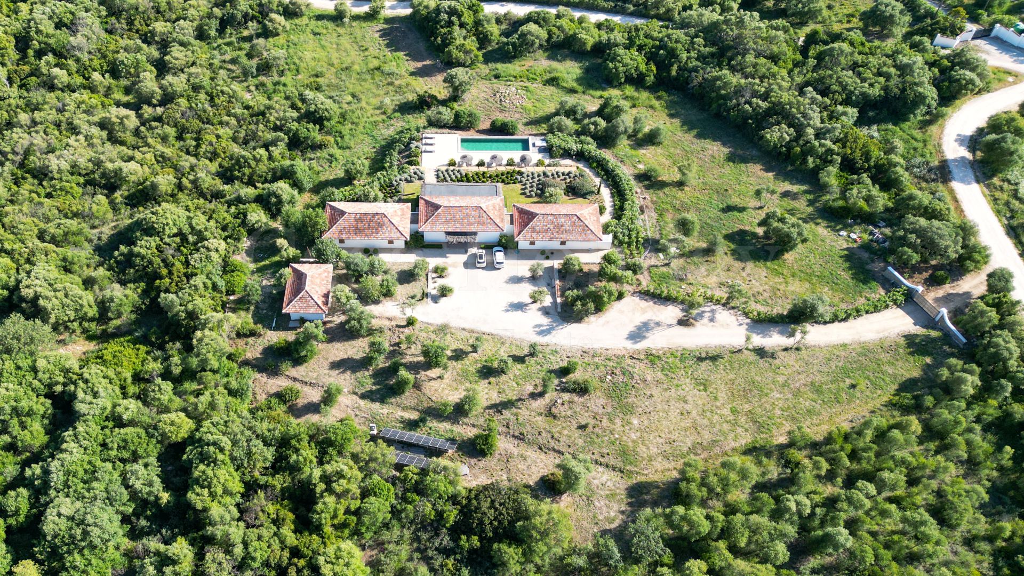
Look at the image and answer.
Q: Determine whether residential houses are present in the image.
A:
Yes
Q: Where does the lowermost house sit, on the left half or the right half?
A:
left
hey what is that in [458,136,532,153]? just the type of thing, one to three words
swimming pool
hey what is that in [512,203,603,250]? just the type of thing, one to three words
house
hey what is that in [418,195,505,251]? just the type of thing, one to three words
house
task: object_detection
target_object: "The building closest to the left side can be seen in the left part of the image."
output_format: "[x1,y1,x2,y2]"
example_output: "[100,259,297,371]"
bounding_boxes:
[282,263,332,322]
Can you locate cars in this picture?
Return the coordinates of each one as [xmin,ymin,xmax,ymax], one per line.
[474,250,487,269]
[492,248,505,269]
